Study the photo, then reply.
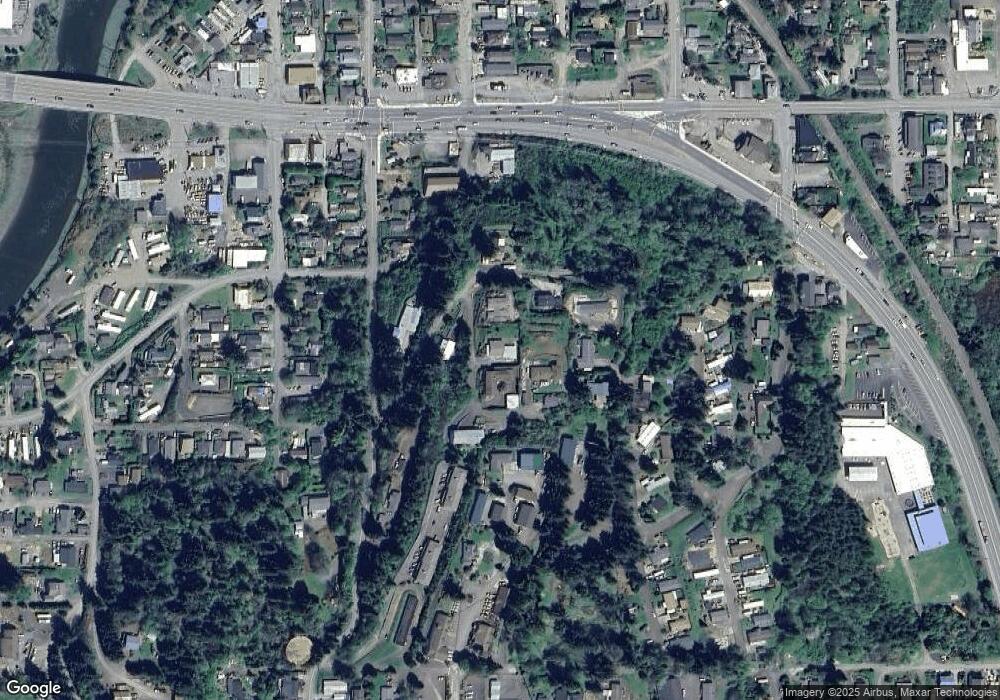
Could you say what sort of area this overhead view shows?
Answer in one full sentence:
It's a residential area.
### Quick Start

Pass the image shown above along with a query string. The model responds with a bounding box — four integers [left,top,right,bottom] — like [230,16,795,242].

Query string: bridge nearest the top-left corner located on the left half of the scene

[0,71,161,120]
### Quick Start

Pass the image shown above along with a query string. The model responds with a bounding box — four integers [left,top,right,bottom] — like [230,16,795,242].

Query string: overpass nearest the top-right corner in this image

[790,100,838,113]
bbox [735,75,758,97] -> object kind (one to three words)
building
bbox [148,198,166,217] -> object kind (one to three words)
house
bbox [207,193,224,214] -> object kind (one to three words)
building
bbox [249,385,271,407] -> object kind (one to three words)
house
